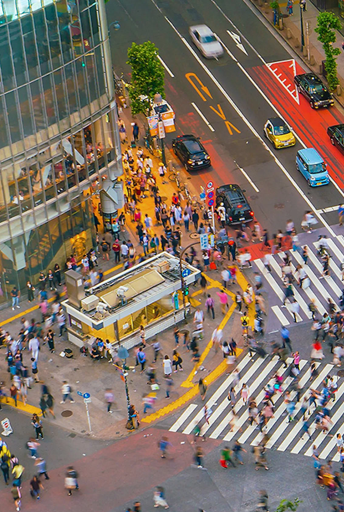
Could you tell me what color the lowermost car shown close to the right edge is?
blue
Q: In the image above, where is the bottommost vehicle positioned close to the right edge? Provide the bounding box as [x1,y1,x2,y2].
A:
[295,141,331,182]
